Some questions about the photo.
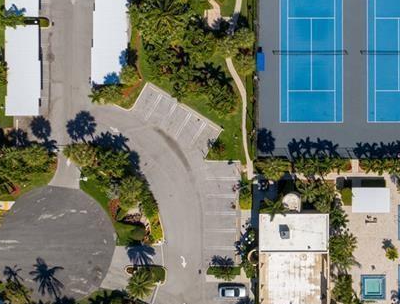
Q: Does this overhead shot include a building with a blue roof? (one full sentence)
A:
No, I find no building with a blue roof anywhere in the image.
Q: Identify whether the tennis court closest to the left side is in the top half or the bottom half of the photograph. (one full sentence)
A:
Seen from above, the tennis court closest to the left side lies in the top half of the view.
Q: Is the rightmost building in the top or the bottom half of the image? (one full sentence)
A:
The rightmost building is in the bottom half of the image.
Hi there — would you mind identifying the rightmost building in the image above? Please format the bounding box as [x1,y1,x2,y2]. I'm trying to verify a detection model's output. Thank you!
[352,188,390,213]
